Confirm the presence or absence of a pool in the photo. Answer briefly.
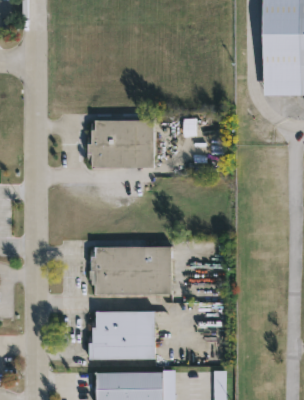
No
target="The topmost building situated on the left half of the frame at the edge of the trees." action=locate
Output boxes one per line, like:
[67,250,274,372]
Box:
[88,120,156,168]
